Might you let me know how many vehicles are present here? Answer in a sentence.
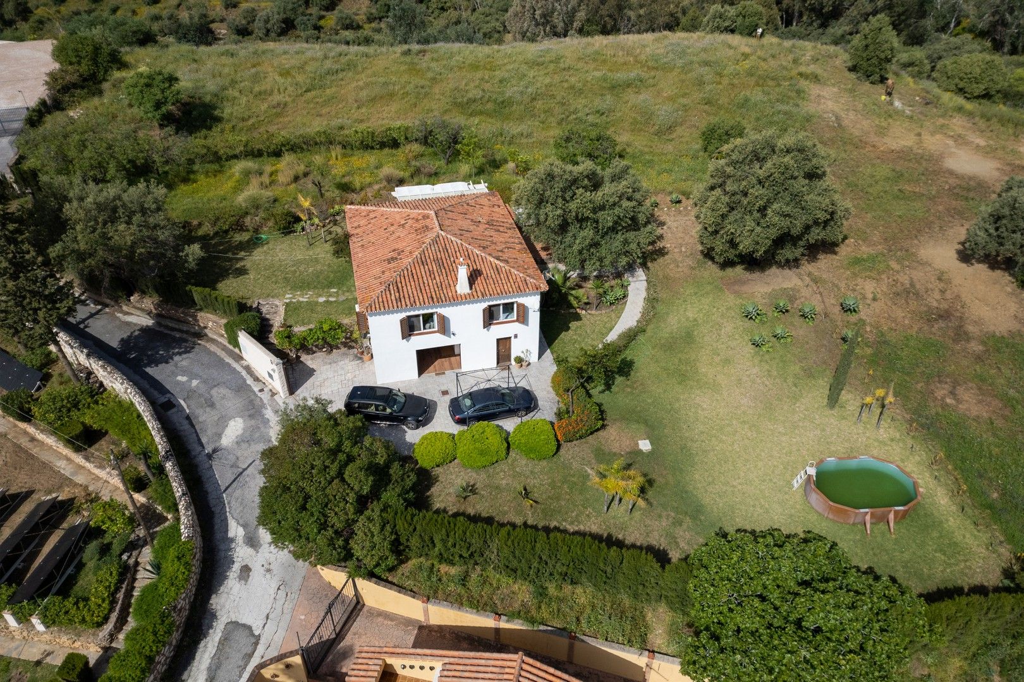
My tally gives 2 vehicles in this view.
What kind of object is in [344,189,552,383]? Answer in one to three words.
house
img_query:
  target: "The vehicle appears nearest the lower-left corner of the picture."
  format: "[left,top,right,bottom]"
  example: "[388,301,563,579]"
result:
[348,387,431,429]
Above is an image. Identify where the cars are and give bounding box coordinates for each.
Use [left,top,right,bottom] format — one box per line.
[450,384,538,425]
[348,387,431,429]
